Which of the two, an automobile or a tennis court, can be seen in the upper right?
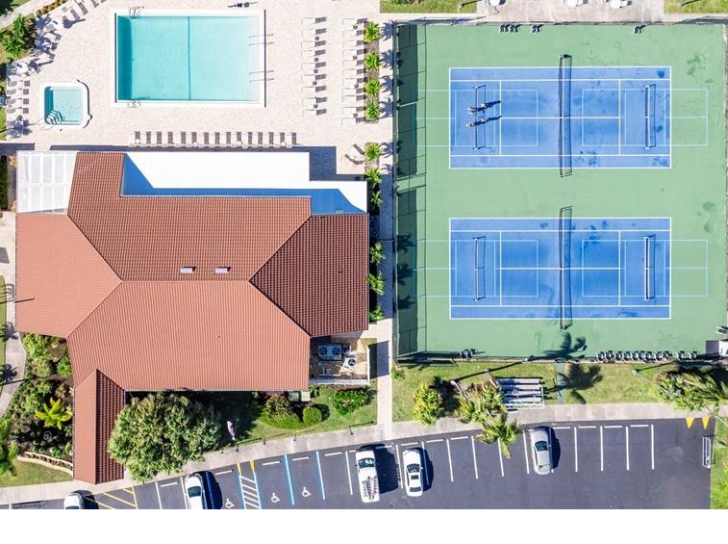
tennis court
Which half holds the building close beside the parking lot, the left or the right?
left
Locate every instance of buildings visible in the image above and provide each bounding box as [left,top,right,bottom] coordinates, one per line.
[15,151,369,484]
[711,341,728,361]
